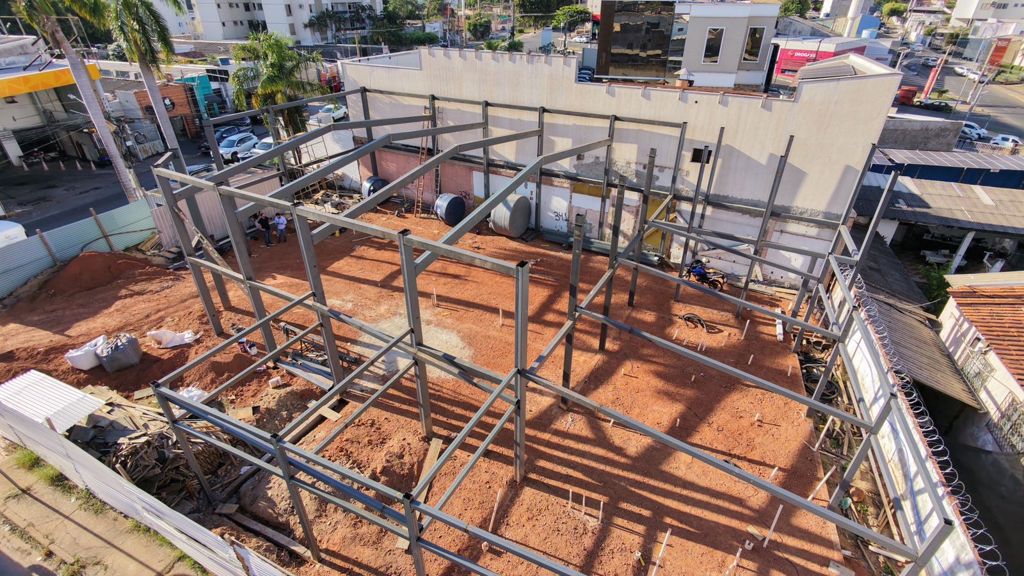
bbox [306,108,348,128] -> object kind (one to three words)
car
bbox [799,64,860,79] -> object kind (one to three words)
solar panel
